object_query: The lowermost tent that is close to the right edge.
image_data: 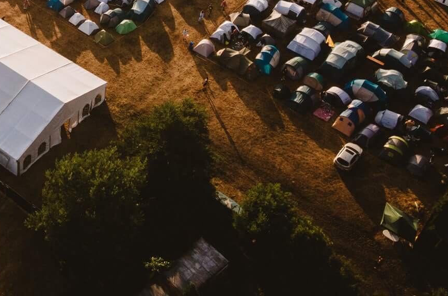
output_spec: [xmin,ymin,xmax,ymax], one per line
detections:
[402,156,433,177]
